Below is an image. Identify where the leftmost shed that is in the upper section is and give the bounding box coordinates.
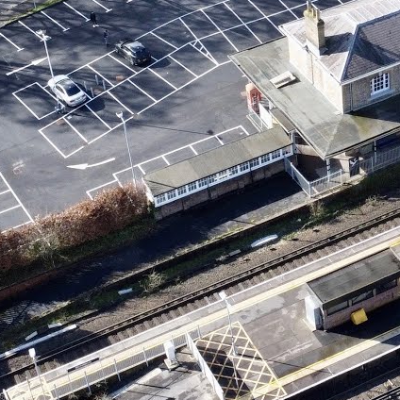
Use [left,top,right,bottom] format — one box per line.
[137,101,293,218]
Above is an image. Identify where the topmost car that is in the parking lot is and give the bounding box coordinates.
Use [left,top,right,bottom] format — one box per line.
[111,40,153,70]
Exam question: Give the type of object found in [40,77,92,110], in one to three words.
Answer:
car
